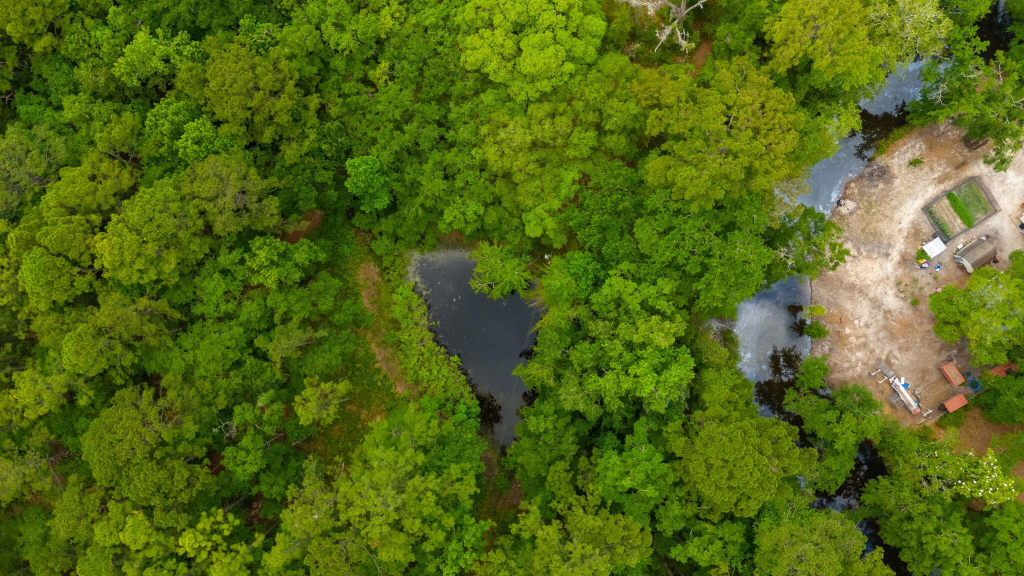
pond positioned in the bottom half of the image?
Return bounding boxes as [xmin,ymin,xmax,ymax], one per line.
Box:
[408,247,544,452]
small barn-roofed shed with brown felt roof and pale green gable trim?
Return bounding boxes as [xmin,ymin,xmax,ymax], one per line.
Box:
[949,238,998,275]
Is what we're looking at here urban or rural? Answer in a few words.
rural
